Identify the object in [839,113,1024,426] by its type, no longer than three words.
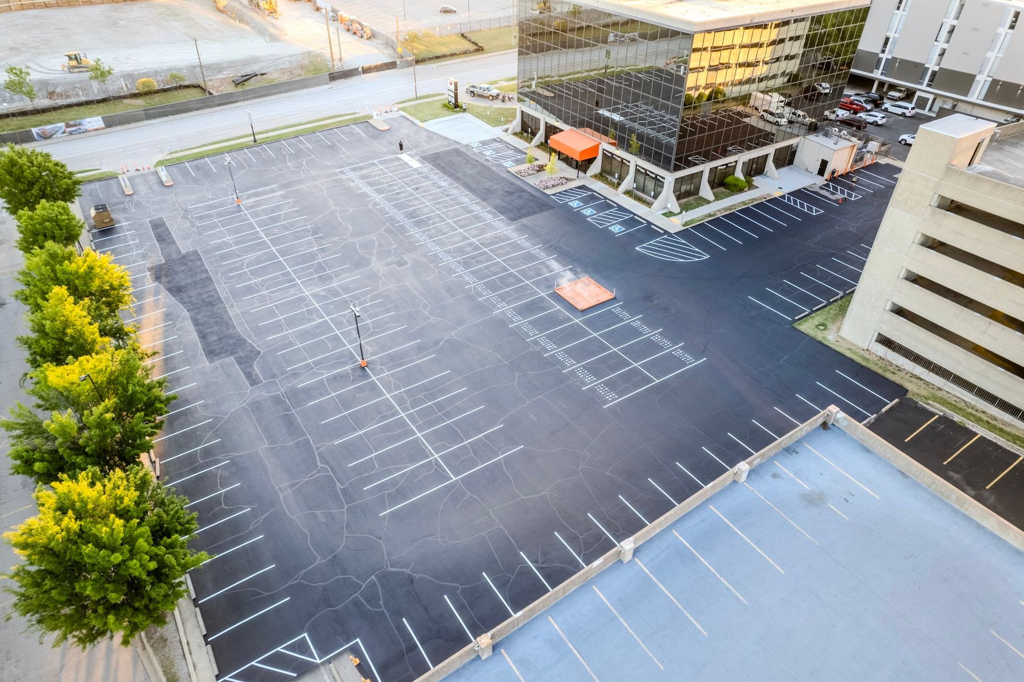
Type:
building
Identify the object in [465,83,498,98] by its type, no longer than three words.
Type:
vehicle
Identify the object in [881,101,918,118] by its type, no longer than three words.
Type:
car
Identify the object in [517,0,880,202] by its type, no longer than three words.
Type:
building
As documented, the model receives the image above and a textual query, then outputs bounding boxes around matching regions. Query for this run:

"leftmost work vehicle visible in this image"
[61,53,92,74]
